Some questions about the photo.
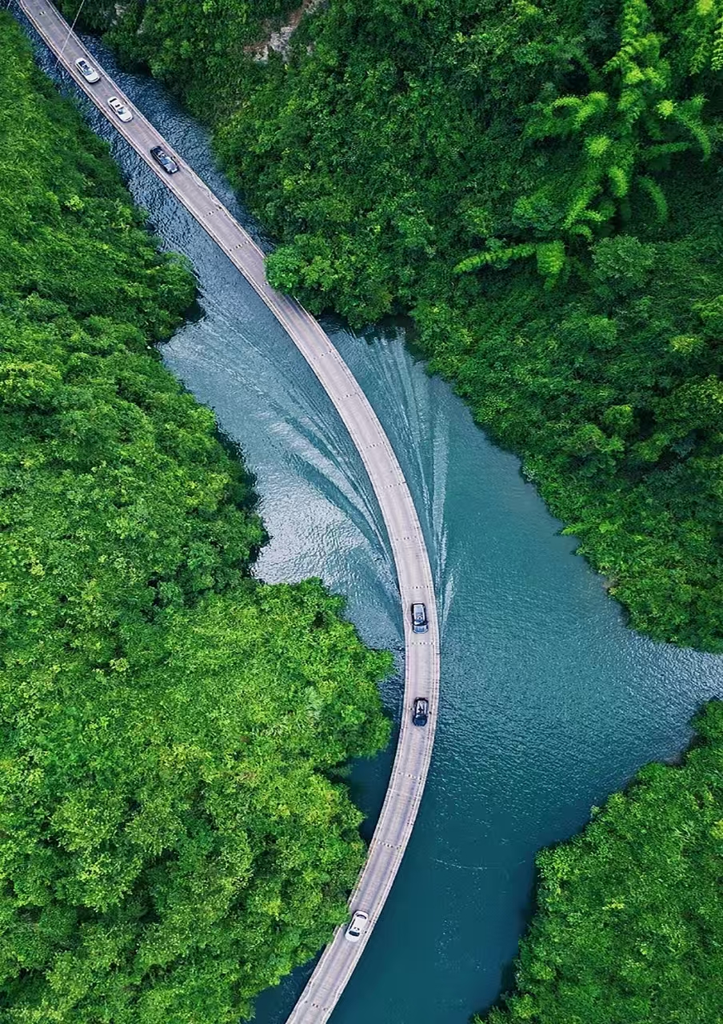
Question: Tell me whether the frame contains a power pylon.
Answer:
No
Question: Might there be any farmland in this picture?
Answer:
No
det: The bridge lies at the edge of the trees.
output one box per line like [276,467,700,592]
[15,0,439,1024]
